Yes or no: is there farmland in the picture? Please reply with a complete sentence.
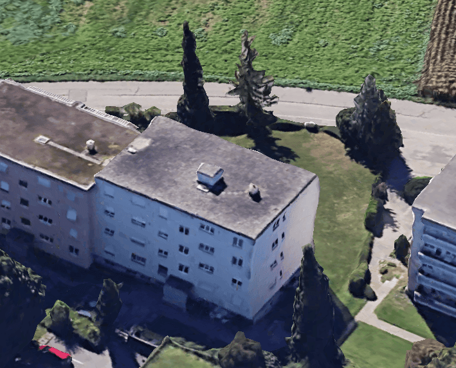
Yes, there is farmland in the image.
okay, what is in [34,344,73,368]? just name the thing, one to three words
car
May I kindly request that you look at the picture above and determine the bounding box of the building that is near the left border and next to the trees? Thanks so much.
[0,80,150,271]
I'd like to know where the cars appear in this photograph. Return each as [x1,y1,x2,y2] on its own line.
[71,293,98,315]
[34,344,73,368]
